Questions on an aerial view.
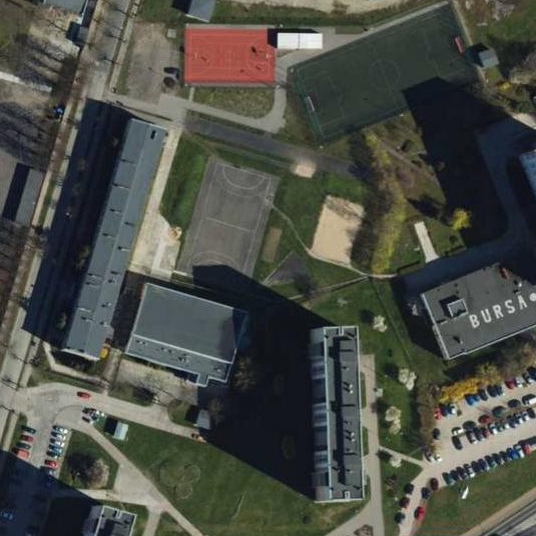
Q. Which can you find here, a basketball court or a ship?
basketball court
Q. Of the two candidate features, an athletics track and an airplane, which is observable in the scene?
athletics track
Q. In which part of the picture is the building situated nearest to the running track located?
left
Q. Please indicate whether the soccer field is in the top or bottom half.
top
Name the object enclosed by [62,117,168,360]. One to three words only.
building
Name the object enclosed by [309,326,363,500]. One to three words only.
building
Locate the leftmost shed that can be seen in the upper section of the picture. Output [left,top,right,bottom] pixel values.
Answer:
[17,168,45,225]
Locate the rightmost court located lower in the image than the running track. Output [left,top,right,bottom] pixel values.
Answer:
[311,195,363,265]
